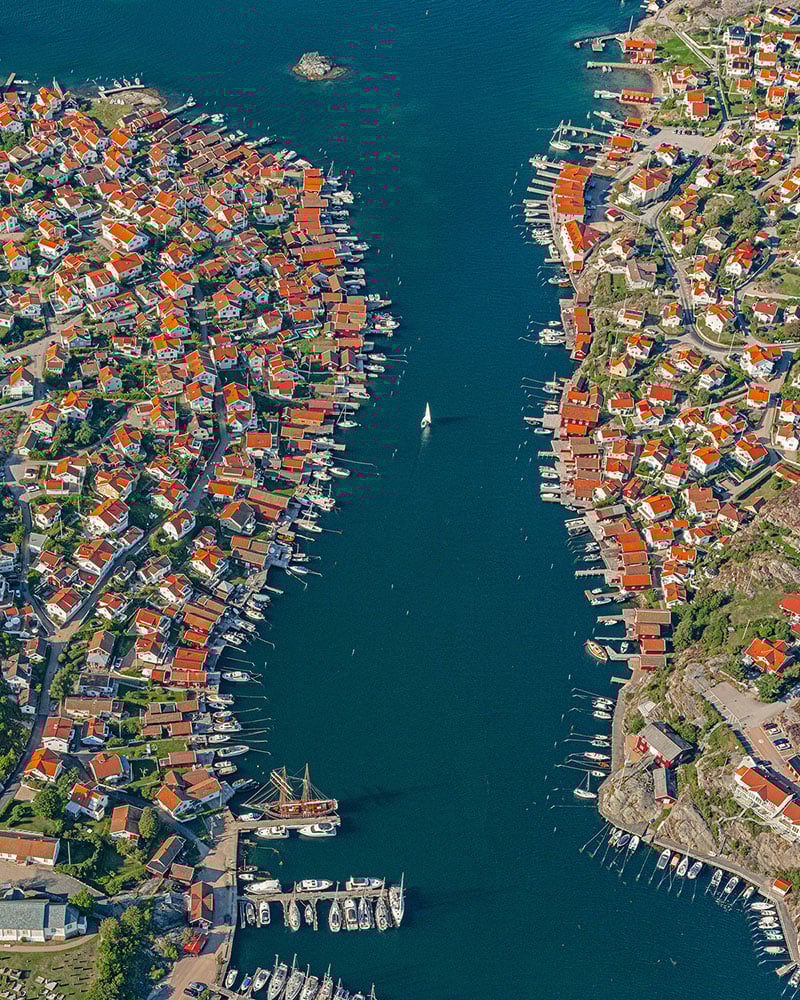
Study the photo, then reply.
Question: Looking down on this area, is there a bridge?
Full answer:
No, the photo shows no bridge.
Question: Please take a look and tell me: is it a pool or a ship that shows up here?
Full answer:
Looking from above, you can make out a ship.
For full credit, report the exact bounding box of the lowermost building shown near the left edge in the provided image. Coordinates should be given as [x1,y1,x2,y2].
[0,886,93,943]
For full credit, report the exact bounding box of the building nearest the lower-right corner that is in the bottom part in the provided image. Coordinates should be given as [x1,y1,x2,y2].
[772,875,792,904]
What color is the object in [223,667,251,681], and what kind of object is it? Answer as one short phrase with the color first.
white boat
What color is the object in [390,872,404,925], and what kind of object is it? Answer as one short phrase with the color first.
white boat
